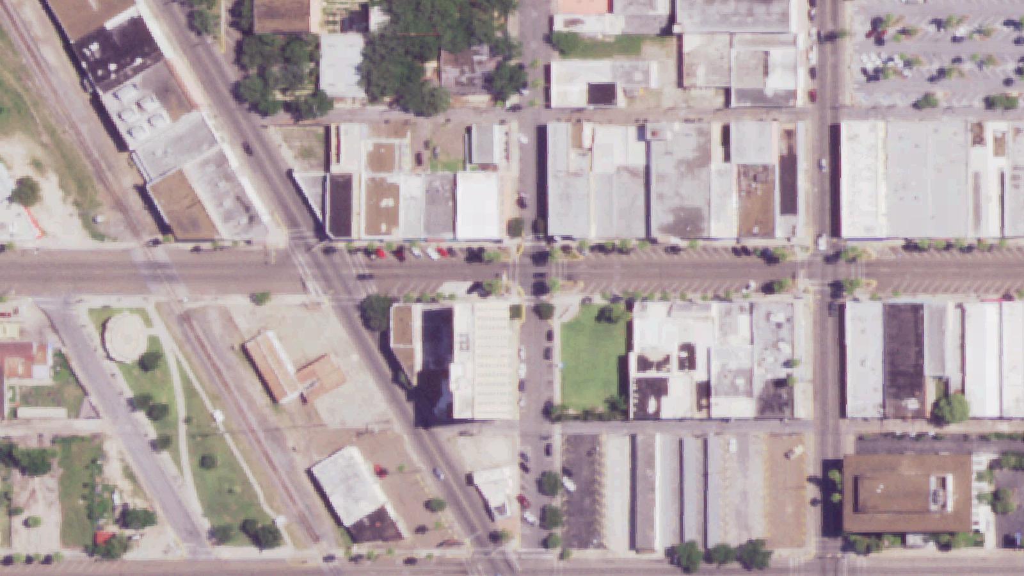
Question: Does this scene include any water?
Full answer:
No, the picture contains no water.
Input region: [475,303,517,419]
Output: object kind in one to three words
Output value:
building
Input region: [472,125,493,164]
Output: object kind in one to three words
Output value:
house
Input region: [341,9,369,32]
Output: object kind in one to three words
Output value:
shed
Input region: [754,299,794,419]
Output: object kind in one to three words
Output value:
building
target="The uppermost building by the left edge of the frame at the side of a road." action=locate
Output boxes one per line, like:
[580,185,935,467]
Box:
[46,0,137,42]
